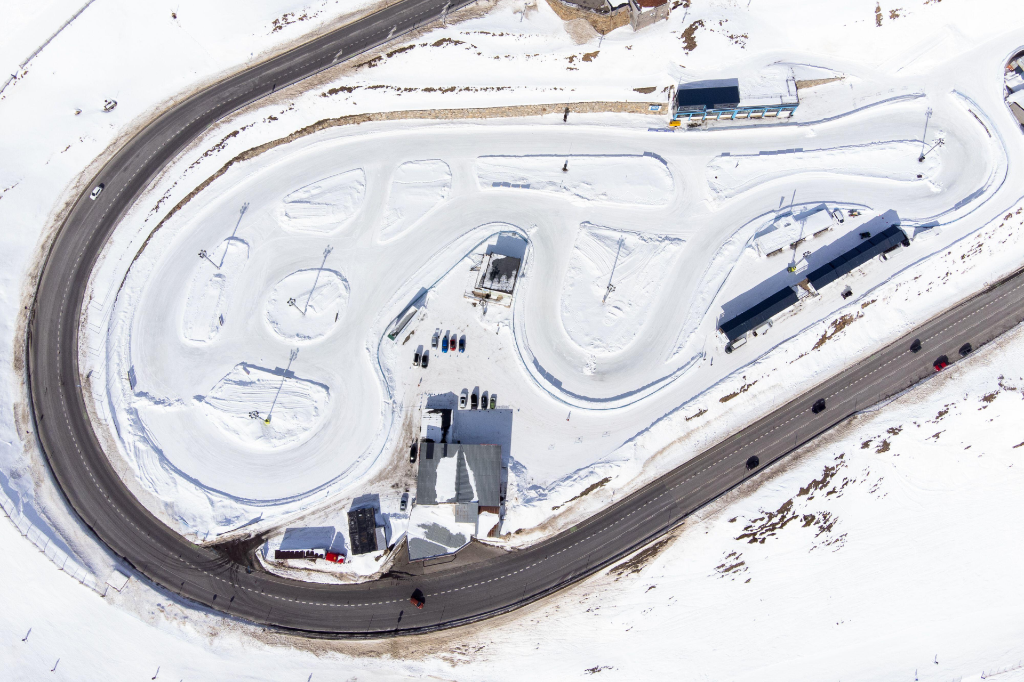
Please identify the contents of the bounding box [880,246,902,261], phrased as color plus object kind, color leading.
white car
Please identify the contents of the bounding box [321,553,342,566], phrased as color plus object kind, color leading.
red vehicle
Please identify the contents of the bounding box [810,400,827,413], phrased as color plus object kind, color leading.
black vehicle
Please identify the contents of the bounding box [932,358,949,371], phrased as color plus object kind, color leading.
red vehicle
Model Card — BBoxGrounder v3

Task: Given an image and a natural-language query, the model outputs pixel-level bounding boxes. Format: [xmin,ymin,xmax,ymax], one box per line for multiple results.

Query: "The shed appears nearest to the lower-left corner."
[348,508,388,555]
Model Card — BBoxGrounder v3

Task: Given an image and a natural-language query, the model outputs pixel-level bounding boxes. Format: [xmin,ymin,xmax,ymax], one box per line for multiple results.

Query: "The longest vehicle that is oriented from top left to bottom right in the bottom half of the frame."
[409,595,427,610]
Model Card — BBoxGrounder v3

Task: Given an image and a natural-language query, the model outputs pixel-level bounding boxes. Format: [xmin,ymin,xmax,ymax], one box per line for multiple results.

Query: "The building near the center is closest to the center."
[463,252,520,308]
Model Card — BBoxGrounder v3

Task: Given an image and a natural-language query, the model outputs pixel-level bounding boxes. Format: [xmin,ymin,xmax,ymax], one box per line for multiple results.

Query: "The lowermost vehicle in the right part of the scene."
[744,457,760,469]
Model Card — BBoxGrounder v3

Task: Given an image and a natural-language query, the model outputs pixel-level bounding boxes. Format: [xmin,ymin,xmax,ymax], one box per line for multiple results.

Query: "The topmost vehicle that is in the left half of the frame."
[90,185,104,199]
